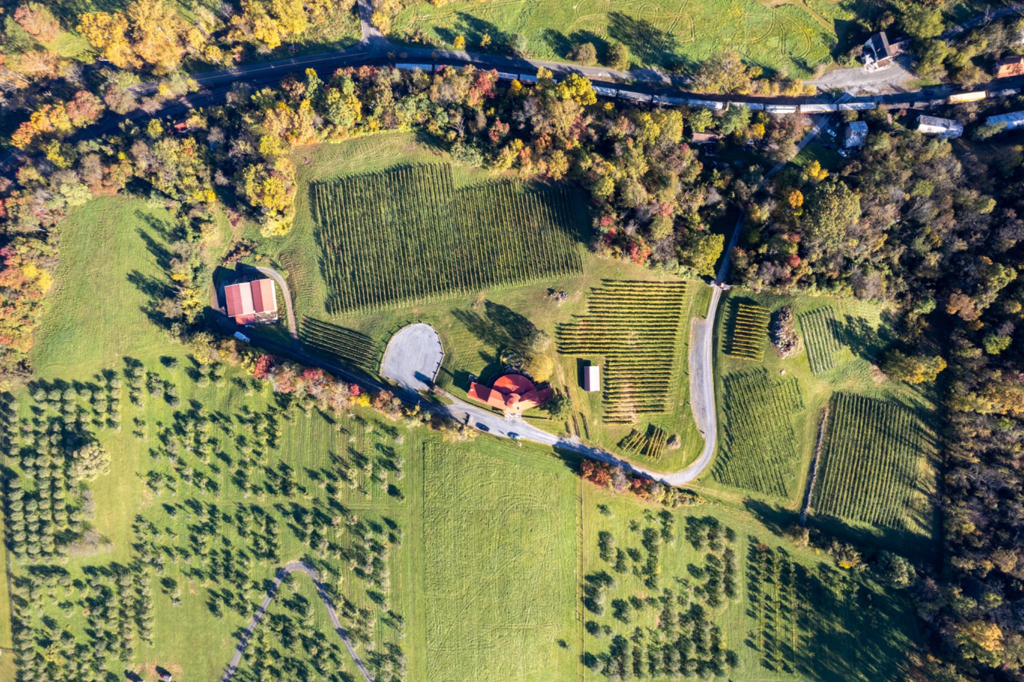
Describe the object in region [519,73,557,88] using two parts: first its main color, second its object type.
blue rail car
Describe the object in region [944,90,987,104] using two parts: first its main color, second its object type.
white rail car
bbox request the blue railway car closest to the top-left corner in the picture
[395,61,434,74]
